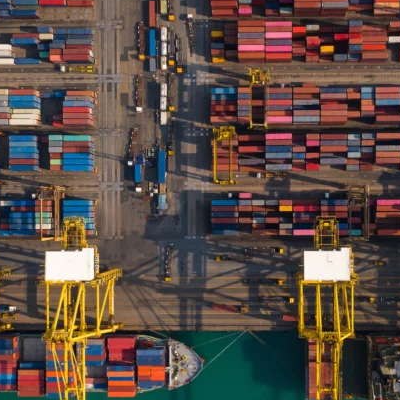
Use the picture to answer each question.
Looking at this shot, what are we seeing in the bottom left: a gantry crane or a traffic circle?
gantry crane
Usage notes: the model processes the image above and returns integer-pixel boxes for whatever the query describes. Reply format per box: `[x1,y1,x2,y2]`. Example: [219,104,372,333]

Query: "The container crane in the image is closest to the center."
[212,125,237,187]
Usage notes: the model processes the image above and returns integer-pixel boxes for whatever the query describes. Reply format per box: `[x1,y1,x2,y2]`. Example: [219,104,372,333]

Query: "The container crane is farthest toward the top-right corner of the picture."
[246,68,271,134]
